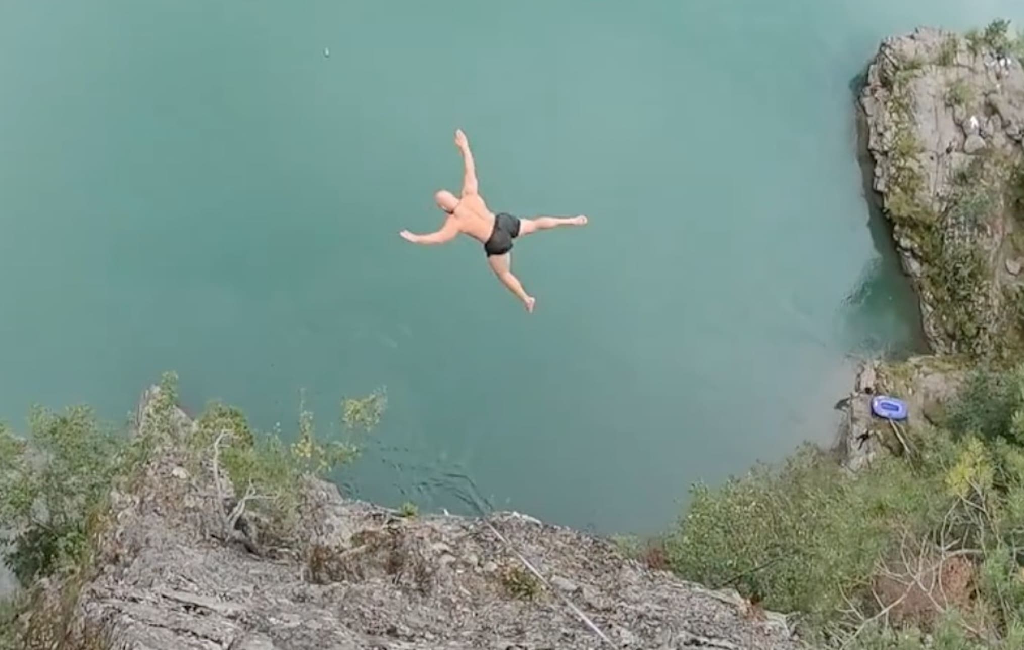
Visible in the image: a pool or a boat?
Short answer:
boat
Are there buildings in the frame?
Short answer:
No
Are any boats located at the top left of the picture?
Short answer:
No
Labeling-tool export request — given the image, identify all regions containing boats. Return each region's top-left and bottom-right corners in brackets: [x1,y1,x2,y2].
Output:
[874,395,913,420]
